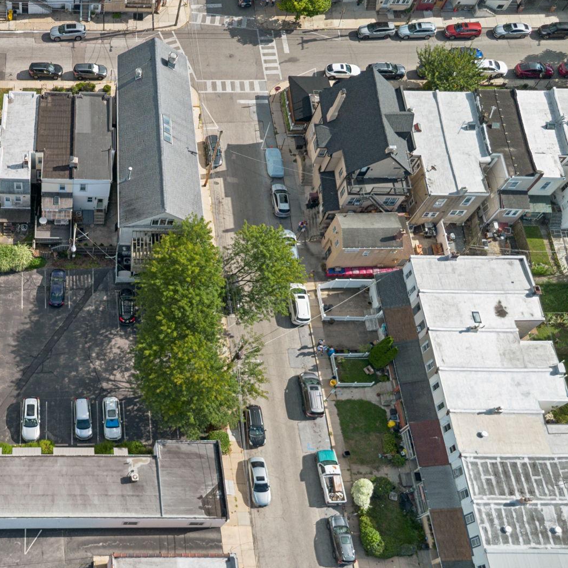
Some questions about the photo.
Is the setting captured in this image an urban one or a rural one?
urban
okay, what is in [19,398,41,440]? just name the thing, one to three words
car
